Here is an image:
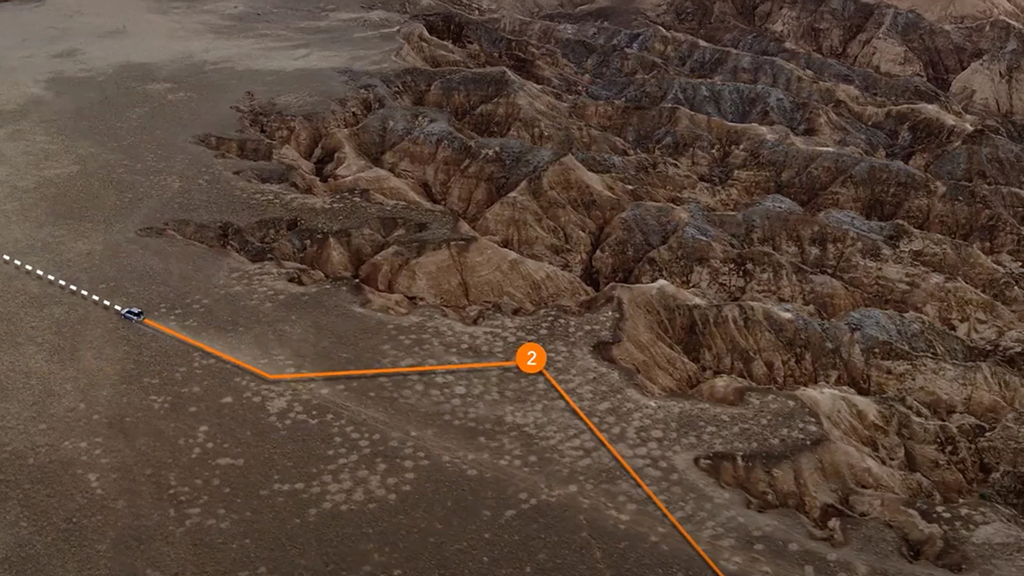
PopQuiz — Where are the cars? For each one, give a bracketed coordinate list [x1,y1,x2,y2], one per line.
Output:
[121,307,147,322]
